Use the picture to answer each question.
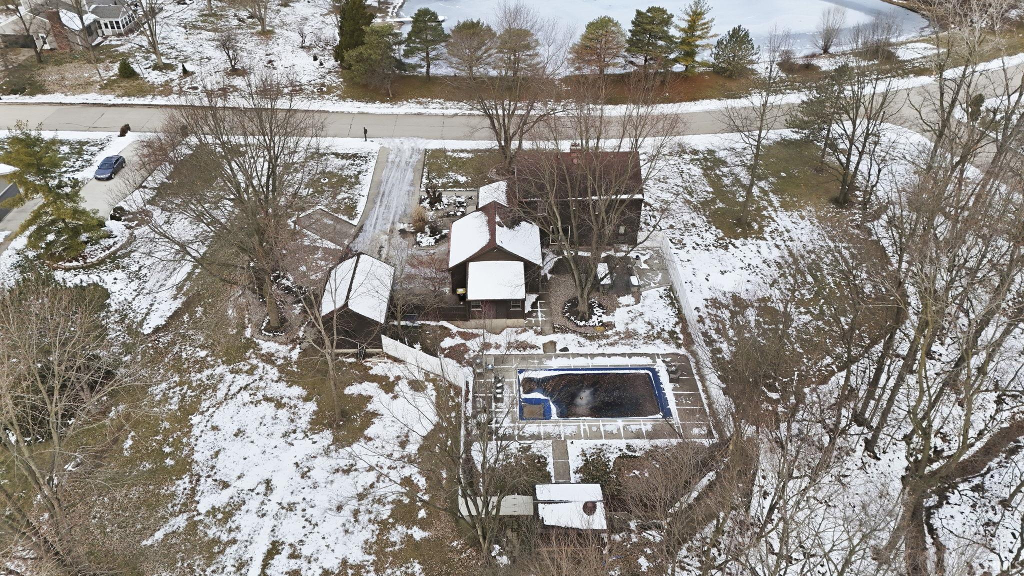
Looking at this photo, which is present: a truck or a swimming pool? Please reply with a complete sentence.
This aerial view contains a swimming pool.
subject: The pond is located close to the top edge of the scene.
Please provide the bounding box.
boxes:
[372,0,929,77]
